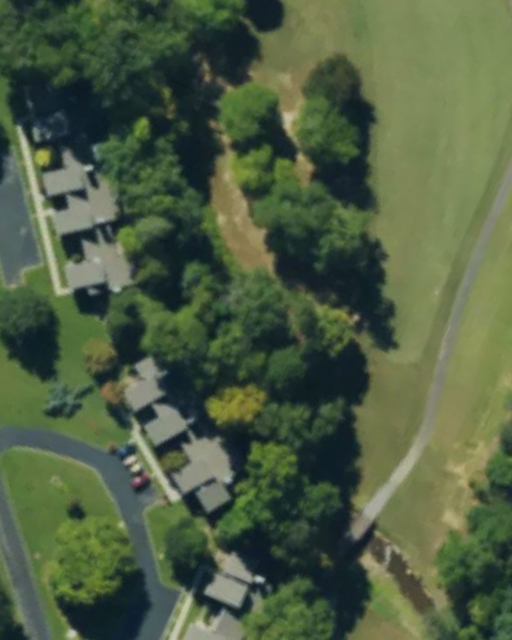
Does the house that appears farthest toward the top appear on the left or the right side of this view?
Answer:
left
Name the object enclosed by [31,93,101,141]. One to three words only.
house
